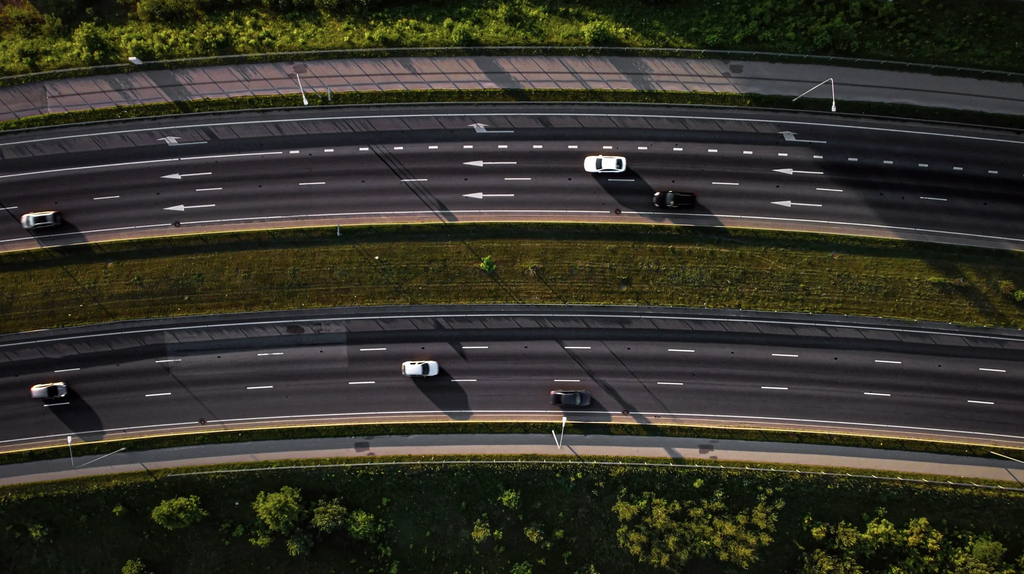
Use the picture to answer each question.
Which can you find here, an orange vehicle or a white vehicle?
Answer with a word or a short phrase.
white vehicle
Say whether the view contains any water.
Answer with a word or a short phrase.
No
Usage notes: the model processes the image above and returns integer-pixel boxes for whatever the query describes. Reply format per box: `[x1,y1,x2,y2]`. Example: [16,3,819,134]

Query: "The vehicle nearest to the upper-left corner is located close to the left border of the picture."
[23,211,63,230]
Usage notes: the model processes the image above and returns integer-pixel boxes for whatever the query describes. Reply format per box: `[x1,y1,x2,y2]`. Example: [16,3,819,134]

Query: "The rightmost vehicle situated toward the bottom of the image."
[550,389,591,408]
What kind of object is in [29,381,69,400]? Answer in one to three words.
car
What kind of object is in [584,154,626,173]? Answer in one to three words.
car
